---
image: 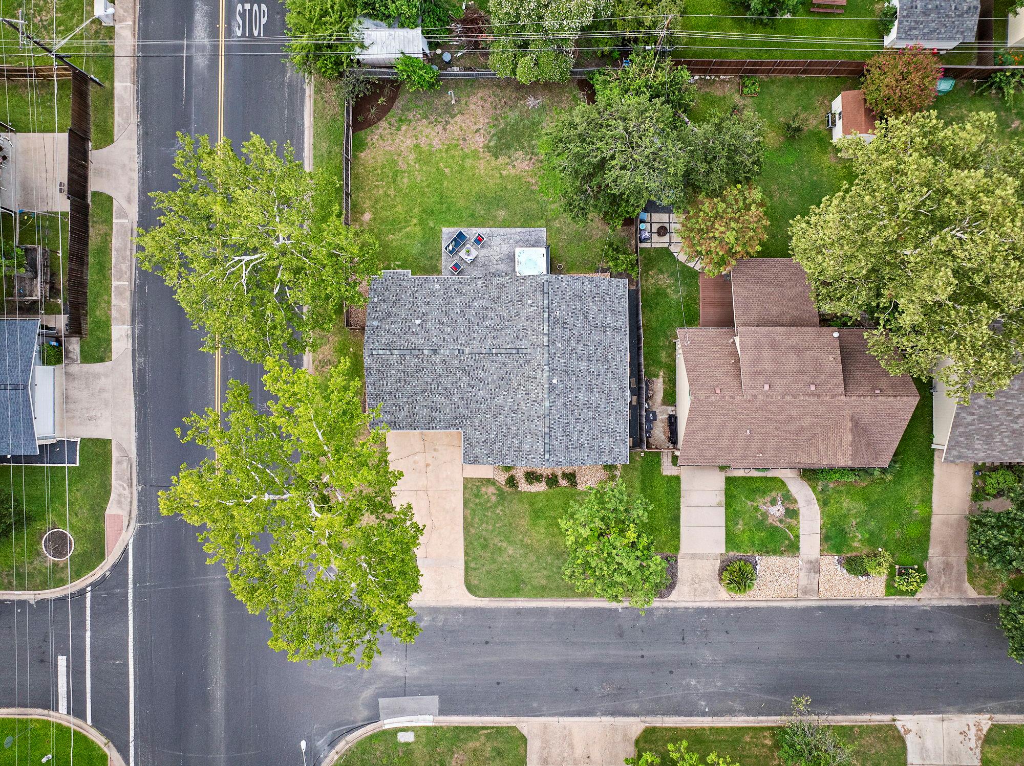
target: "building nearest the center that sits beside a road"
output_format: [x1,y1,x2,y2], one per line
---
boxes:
[365,269,633,467]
